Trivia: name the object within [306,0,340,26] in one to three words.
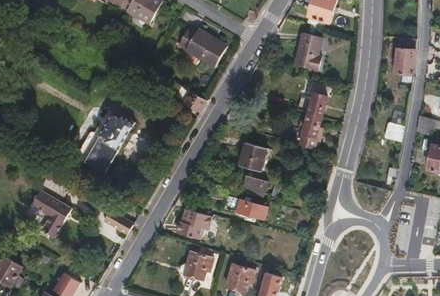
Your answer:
house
